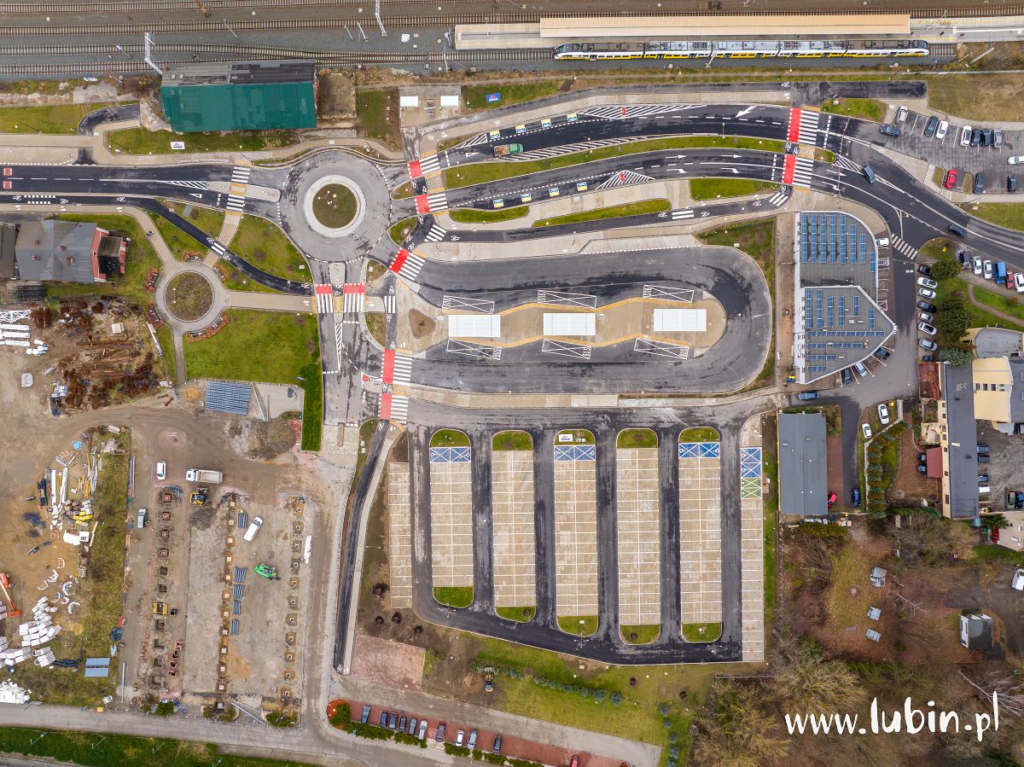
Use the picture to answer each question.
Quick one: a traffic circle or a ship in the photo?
traffic circle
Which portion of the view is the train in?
top right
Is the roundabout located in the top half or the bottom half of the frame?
top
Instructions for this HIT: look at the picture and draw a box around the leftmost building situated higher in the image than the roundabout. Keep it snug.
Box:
[161,60,321,134]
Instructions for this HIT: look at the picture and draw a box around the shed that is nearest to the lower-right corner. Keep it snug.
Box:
[960,607,993,648]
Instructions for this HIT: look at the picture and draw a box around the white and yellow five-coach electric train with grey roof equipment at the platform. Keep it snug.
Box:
[554,38,935,61]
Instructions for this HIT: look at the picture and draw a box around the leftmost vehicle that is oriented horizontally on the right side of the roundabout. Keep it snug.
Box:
[492,140,524,157]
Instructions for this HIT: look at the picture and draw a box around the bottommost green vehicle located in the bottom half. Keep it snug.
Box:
[254,565,282,582]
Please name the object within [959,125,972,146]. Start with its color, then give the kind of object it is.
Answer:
white vehicle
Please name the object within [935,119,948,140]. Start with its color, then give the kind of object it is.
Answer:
white vehicle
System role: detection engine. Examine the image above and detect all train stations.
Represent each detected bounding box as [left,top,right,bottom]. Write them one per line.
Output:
[455,14,1024,51]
